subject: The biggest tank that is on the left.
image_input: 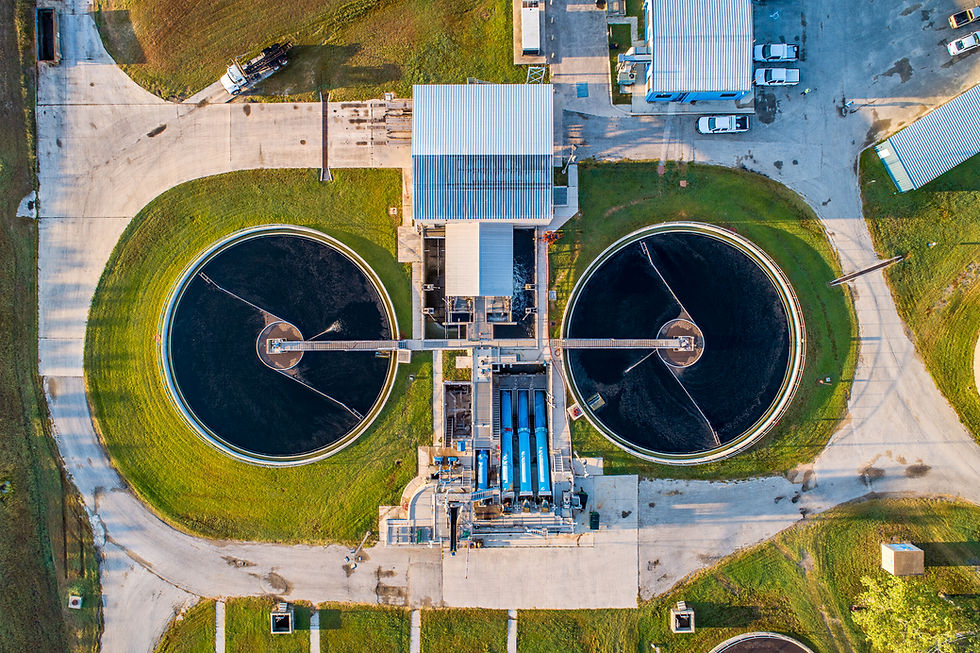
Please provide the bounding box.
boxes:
[160,225,402,466]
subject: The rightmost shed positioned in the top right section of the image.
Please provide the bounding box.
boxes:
[872,86,980,193]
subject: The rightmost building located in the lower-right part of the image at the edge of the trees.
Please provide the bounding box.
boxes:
[881,545,924,575]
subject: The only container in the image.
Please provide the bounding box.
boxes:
[36,8,65,65]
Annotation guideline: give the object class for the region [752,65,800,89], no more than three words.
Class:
truck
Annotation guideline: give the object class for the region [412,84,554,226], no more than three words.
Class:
building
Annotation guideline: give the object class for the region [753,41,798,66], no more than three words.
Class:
truck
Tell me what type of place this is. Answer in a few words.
industrial area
